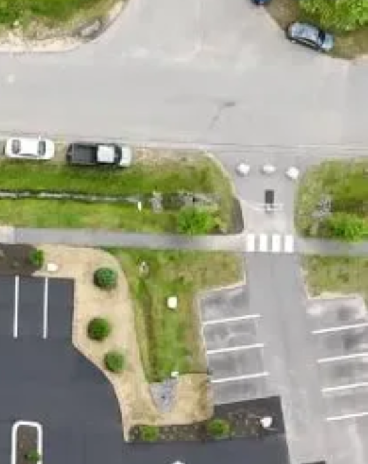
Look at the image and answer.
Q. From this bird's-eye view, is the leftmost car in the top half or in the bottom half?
top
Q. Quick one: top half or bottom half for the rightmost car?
top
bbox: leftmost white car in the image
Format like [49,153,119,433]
[4,134,53,160]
